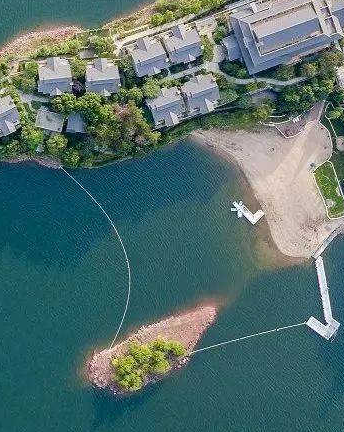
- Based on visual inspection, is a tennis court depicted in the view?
No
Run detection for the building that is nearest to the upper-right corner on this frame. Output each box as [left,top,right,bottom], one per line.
[217,0,344,74]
